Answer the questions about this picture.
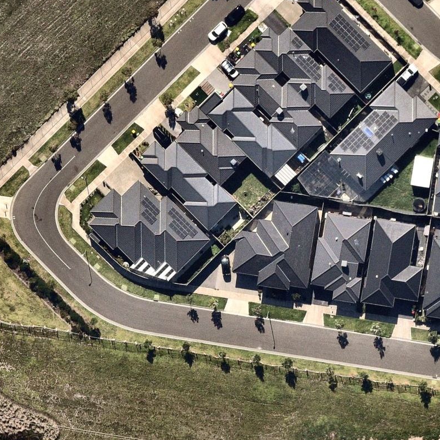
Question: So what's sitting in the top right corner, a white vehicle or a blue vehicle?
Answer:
white vehicle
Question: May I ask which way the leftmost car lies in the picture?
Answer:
on a diagonal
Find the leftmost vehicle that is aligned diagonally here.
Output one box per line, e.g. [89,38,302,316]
[153,125,172,148]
